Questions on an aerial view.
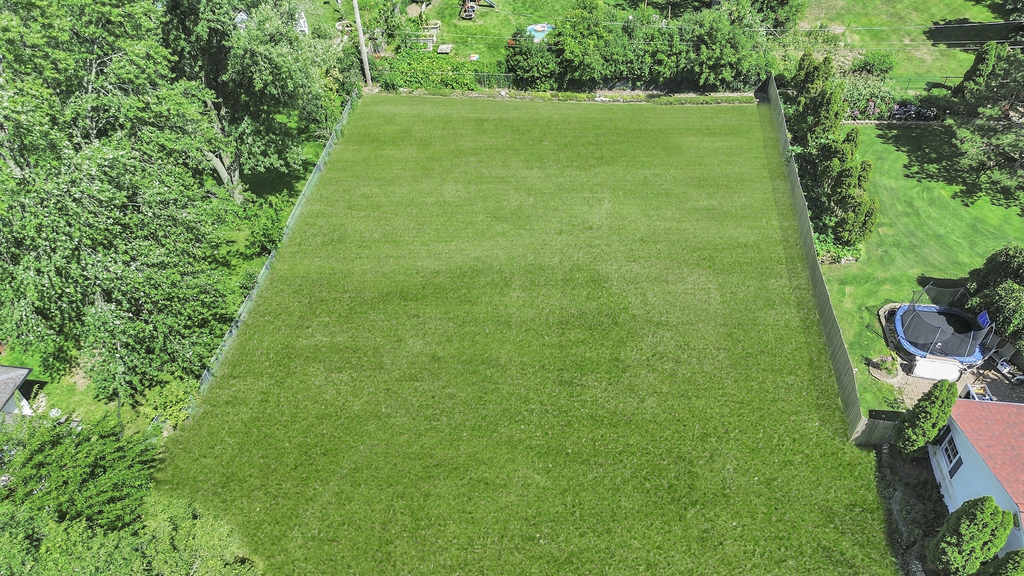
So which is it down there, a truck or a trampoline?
trampoline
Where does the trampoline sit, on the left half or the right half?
right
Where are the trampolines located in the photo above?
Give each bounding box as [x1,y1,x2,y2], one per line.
[892,279,1003,371]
